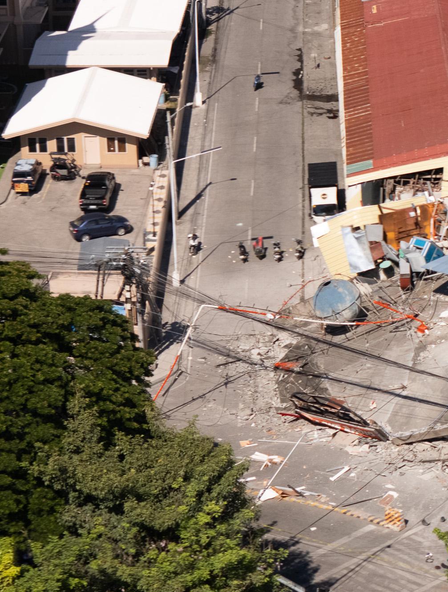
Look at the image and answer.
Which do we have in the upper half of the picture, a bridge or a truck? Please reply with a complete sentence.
What appears in the upper half of the picture is a truck.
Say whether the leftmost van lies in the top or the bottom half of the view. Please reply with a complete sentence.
Seen from above, the leftmost van lies in the top half of the view.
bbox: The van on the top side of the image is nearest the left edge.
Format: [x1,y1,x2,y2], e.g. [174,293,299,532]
[5,156,48,190]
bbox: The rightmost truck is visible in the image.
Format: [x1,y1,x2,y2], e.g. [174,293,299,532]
[306,175,339,225]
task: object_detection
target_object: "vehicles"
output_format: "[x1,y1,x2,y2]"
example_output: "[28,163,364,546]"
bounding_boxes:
[306,175,339,225]
[251,73,262,90]
[67,206,135,234]
[238,243,251,264]
[5,156,48,190]
[186,236,199,256]
[75,168,122,205]
[48,147,77,181]
[293,240,306,260]
[271,244,284,264]
[252,240,266,261]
